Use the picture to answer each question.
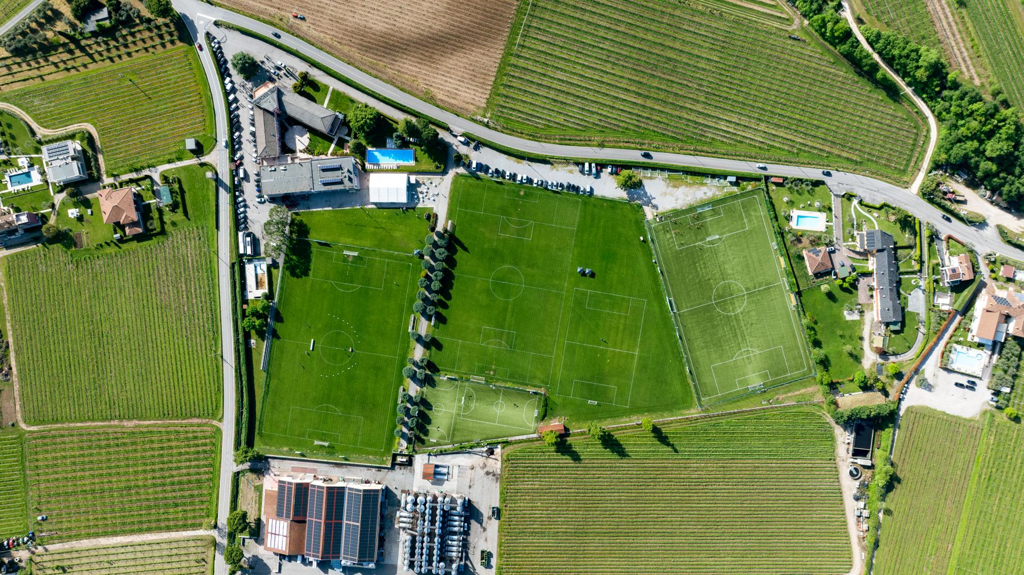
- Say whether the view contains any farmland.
Yes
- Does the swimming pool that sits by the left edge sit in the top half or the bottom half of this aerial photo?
top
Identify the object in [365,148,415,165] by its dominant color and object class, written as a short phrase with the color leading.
blue swimming pool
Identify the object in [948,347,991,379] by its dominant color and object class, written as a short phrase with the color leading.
white swimming pool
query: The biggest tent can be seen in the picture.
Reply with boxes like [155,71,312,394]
[370,173,408,203]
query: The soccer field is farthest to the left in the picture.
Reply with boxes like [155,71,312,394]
[259,241,417,454]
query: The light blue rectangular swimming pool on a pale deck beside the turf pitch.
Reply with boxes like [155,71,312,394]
[790,209,827,232]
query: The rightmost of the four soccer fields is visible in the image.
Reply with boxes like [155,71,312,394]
[647,187,814,406]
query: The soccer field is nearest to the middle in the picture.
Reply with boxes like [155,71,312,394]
[427,178,585,389]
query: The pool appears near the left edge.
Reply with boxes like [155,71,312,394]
[5,166,43,189]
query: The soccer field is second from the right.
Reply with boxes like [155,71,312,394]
[554,285,650,410]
